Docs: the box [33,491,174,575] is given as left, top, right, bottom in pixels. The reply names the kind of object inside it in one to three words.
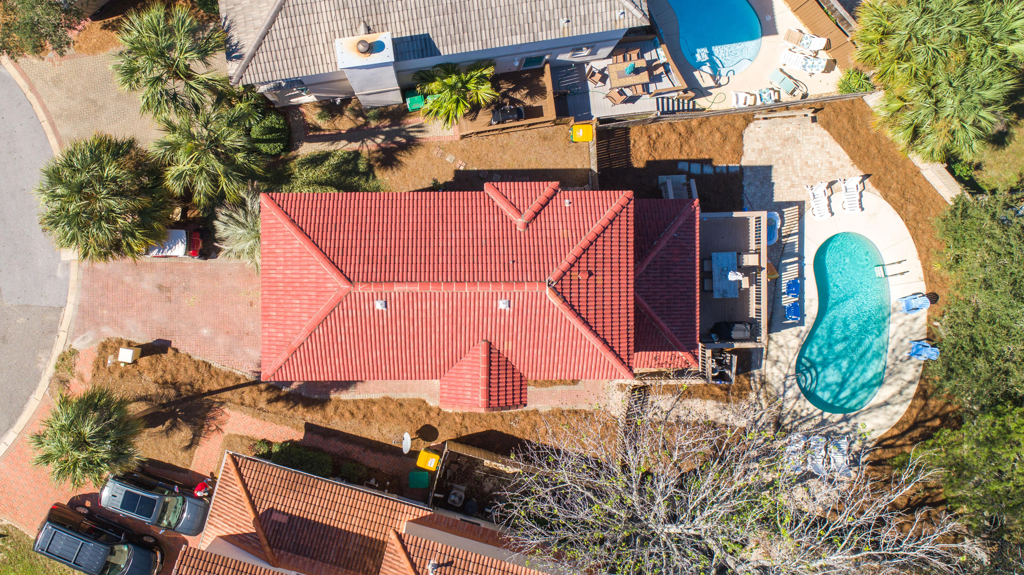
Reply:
car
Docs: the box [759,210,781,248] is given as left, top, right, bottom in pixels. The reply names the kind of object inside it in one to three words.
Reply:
swimming pool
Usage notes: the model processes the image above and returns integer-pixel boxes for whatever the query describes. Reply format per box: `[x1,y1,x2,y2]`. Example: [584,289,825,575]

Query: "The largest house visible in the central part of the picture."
[258,179,703,413]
